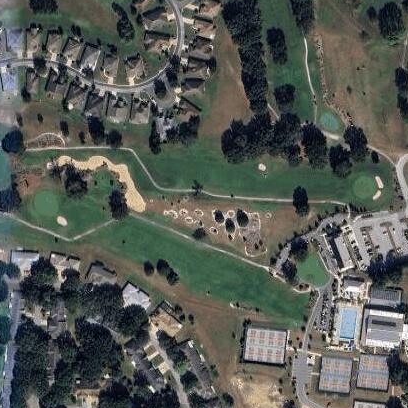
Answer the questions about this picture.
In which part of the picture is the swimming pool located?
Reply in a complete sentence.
The swimming pool sits in the bottom right section of the image.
